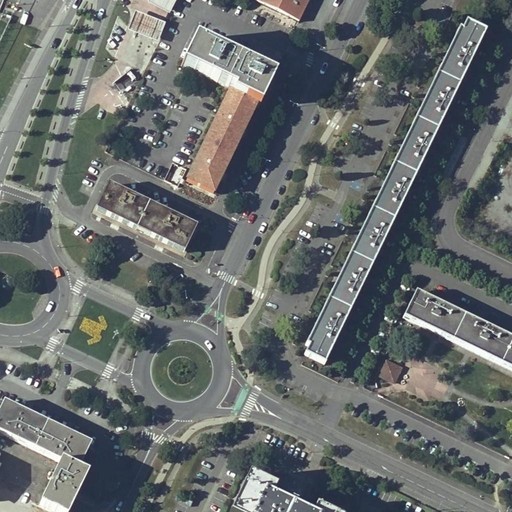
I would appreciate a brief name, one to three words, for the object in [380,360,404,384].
building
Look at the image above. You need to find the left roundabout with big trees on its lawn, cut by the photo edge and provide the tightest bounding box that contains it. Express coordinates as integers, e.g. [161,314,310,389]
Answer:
[0,234,64,346]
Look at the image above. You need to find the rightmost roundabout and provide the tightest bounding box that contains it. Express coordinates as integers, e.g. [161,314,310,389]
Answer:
[132,320,232,421]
